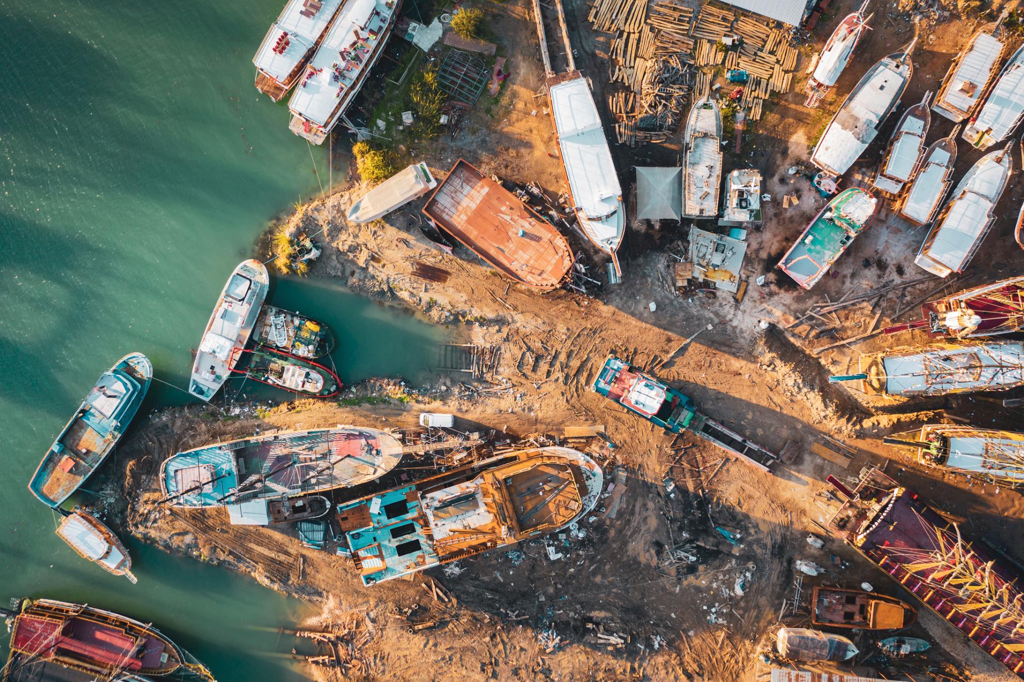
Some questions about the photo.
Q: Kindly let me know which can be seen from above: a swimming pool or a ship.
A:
ship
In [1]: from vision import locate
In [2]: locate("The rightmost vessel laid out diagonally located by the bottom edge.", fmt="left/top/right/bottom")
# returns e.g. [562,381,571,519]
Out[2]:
[824,468,1024,682]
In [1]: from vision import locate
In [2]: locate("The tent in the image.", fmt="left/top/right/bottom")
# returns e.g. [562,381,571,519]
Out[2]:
[635,166,683,223]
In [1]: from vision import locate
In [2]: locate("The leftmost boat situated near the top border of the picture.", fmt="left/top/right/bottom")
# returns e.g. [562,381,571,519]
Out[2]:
[253,0,346,104]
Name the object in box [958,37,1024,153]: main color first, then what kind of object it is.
white boat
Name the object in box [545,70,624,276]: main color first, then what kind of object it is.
white boat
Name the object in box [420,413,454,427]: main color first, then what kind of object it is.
white vehicle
